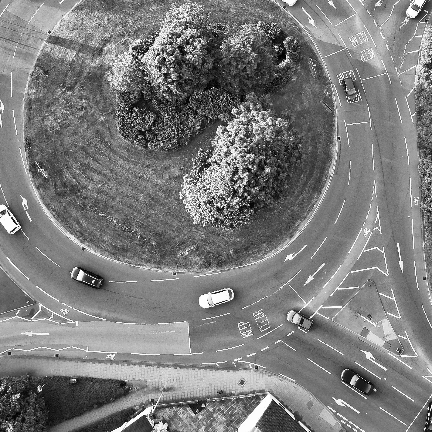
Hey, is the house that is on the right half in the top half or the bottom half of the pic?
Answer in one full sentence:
It is in the bottom half that the house that is on the right half appears.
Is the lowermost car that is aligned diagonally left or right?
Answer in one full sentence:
The lowermost car that is aligned diagonally appears in the right half of the scene.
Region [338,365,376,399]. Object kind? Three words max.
car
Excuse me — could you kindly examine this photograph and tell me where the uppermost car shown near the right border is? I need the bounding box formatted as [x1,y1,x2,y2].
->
[403,0,428,20]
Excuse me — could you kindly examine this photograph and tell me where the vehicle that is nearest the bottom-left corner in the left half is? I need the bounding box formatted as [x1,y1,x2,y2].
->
[69,266,105,291]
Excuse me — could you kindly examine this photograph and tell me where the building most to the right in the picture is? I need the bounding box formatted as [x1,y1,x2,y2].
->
[225,393,314,432]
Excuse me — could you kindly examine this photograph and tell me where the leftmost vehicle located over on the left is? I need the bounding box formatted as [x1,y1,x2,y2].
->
[0,203,22,236]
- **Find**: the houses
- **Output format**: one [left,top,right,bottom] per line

[225,393,314,432]
[112,406,163,432]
